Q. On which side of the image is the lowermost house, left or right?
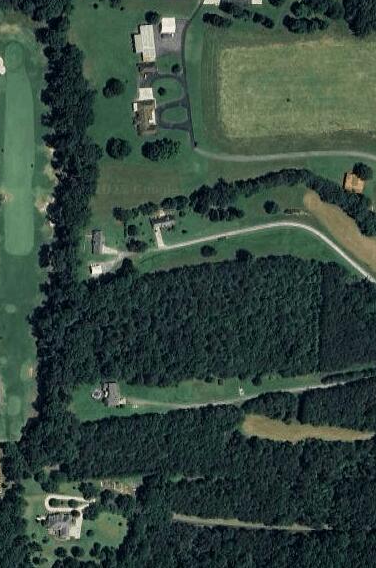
left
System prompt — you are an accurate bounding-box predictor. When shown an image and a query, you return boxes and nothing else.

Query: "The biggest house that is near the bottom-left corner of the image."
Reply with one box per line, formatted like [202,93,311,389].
[47,514,69,537]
